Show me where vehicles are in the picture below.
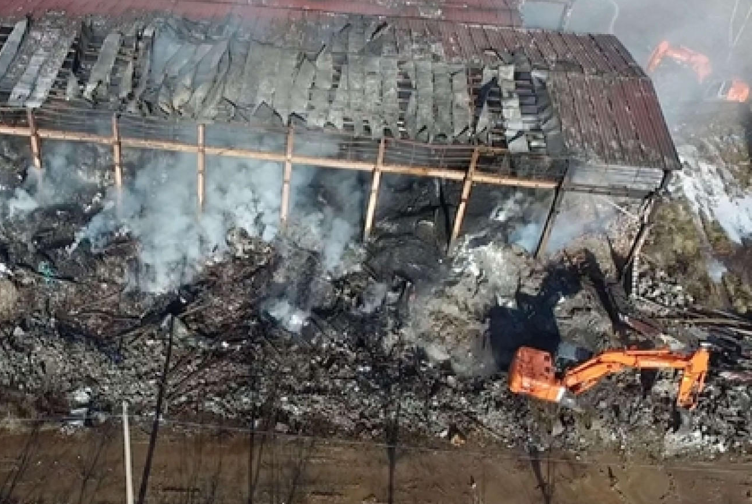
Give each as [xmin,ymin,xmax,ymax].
[501,338,706,422]
[646,36,752,121]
